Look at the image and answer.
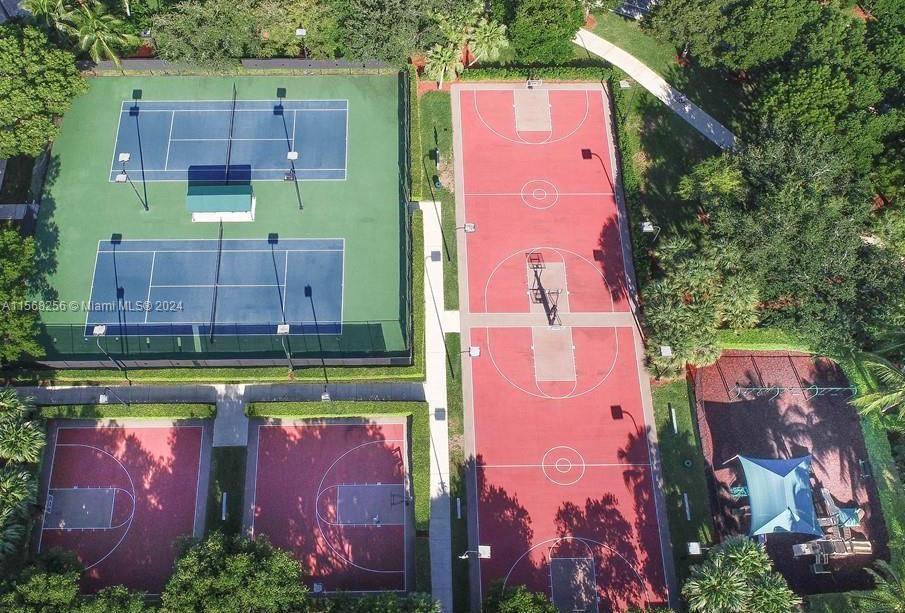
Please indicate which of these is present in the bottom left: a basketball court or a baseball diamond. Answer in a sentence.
The feature located in the bottom left is a basketball court.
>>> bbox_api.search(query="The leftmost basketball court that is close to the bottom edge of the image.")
[25,418,212,602]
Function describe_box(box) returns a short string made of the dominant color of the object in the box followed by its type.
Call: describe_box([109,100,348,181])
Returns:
blue tennis court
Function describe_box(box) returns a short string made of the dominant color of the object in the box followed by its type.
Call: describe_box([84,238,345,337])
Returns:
blue tennis court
